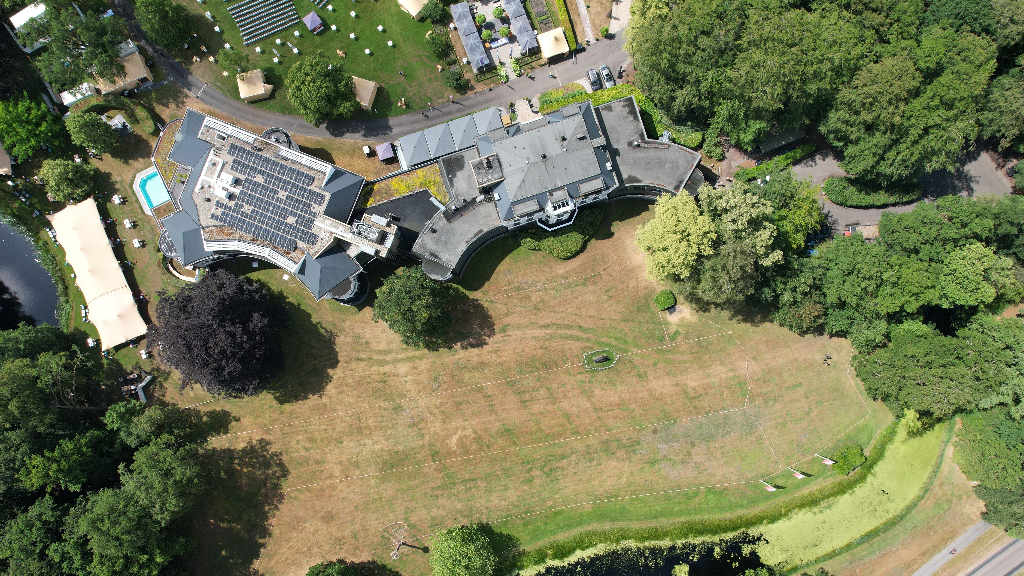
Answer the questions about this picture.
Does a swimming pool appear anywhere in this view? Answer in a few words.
Yes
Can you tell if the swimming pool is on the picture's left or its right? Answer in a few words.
left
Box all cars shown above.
[586,66,602,90]
[1005,165,1024,177]
[599,62,616,87]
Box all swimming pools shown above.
[133,165,172,215]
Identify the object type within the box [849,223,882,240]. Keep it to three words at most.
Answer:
building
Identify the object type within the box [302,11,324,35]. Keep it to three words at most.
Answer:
gazebo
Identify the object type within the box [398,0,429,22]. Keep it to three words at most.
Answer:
tent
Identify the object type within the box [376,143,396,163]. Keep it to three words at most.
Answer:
gazebo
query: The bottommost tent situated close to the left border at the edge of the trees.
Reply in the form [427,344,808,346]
[46,195,148,351]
